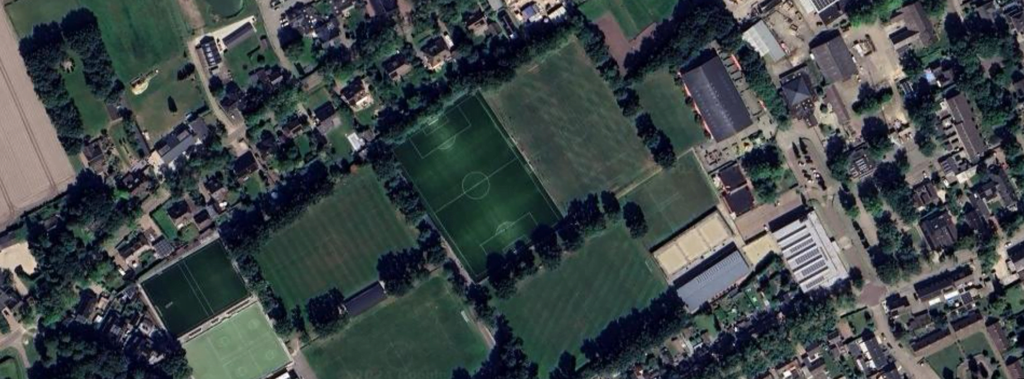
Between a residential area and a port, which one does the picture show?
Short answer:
residential area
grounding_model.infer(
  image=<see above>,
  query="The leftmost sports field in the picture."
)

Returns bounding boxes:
[143,238,249,337]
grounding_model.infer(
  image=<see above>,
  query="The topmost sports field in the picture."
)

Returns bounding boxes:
[573,0,679,41]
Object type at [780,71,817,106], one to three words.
building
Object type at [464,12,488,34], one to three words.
house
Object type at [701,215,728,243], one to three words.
sports court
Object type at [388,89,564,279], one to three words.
soccer field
